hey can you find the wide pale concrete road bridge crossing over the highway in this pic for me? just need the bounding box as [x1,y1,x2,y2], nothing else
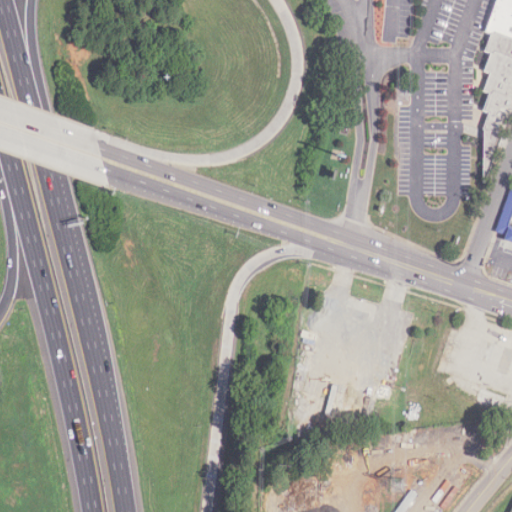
[0,94,109,190]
